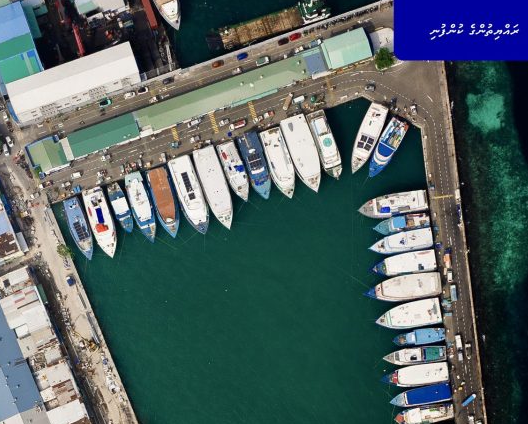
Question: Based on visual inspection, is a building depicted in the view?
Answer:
Yes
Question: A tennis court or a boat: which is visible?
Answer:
boat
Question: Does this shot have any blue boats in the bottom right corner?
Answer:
Yes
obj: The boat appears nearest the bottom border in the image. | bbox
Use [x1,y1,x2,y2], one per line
[394,403,456,424]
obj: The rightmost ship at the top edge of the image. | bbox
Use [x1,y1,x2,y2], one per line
[205,0,331,51]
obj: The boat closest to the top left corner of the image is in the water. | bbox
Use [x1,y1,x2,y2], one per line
[153,0,186,32]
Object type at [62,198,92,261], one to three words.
boat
